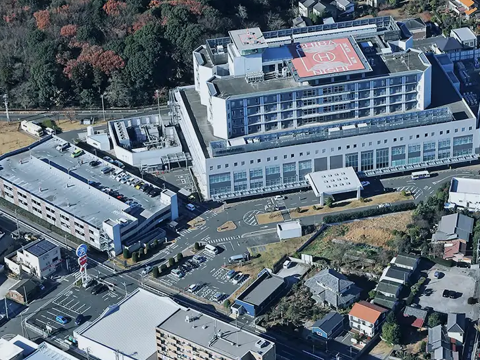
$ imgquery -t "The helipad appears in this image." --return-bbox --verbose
[284,36,366,77]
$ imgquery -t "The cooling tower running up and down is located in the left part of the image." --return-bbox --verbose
[116,122,132,151]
